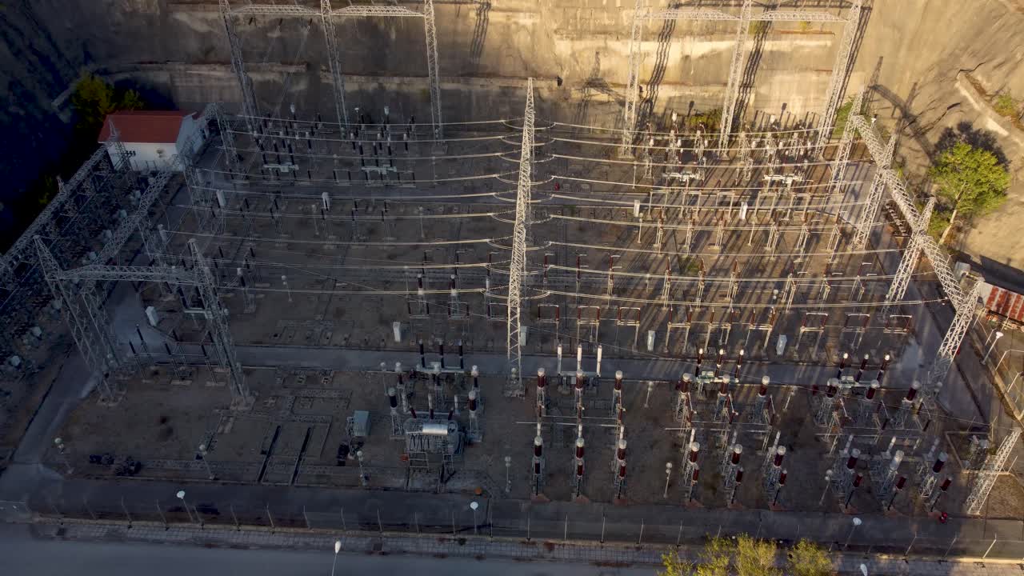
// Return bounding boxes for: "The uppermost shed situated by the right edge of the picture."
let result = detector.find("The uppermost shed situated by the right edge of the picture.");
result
[960,282,1024,348]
